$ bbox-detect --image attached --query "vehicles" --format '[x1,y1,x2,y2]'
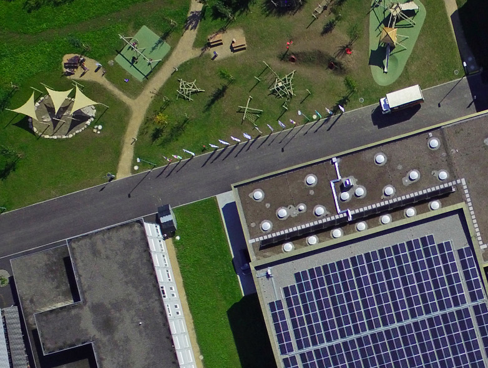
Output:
[378,84,426,114]
[236,250,253,277]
